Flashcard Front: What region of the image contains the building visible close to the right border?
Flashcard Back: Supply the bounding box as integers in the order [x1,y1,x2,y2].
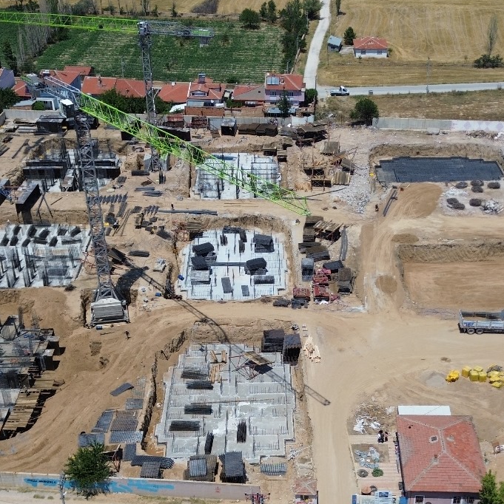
[385,414,488,504]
